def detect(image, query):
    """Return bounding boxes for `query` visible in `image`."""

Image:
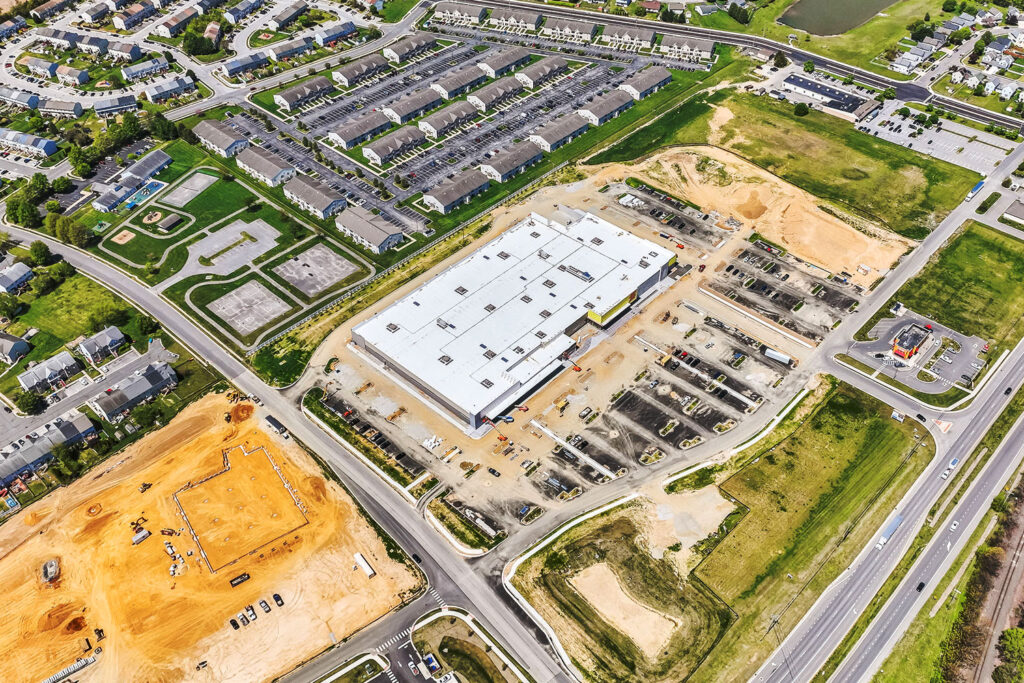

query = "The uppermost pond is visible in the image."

[780,0,897,33]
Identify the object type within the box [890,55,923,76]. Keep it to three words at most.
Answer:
house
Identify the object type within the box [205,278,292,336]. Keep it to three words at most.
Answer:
sports court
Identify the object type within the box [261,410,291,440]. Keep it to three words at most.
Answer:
truck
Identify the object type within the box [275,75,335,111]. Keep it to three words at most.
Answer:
building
